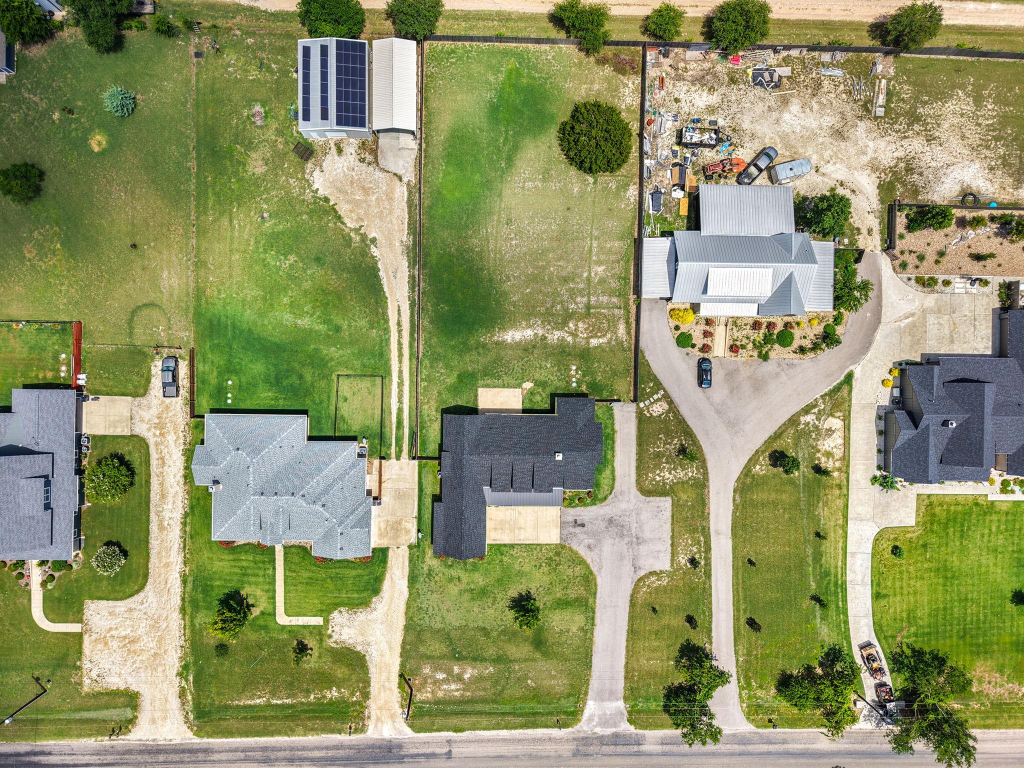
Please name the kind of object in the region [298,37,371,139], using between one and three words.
barn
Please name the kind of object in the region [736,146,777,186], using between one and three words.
truck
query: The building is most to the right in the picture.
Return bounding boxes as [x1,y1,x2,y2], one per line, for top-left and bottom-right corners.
[881,310,1024,484]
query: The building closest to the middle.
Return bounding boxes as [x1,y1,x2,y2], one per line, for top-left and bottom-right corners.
[433,397,604,558]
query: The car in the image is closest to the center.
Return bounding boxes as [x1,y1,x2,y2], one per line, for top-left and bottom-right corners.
[698,358,715,390]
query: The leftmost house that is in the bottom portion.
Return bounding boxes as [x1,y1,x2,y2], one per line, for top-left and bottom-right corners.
[0,389,90,560]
